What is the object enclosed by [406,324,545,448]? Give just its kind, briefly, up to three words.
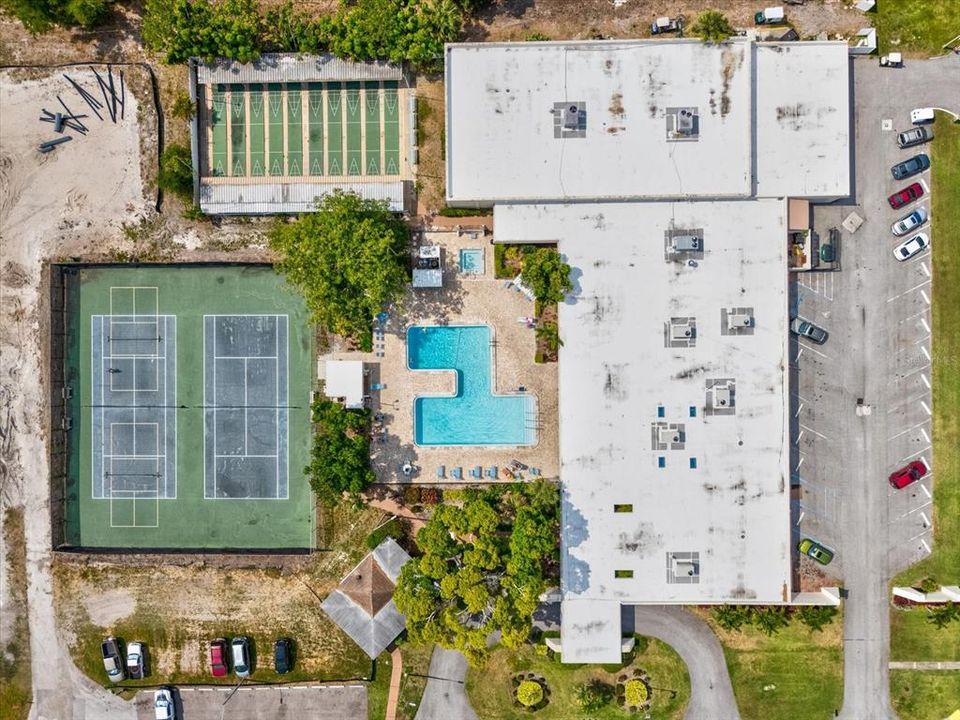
swimming pool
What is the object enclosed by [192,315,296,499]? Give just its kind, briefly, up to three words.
tennis court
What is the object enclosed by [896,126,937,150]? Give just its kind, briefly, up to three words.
car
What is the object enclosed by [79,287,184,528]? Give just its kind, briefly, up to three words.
tennis court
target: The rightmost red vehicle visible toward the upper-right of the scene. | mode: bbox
[887,183,925,209]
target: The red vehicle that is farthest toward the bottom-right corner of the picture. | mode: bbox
[889,461,927,488]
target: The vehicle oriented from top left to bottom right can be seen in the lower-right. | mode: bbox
[799,538,835,566]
